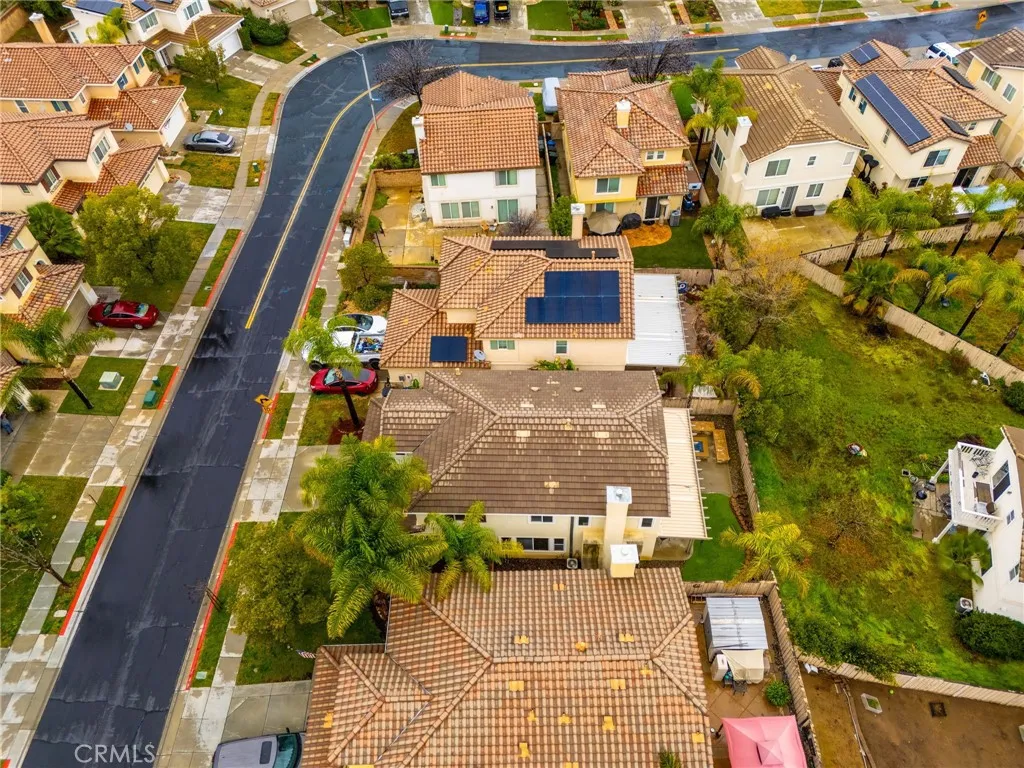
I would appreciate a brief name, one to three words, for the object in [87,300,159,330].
car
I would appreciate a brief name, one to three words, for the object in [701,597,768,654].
shed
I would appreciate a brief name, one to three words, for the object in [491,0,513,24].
car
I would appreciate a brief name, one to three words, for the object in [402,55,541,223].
house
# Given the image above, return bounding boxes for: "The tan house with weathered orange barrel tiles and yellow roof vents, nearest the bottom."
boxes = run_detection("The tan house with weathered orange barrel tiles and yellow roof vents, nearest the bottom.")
[301,547,714,768]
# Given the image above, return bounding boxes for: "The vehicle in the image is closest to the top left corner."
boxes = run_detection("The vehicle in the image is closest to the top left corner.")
[179,132,239,158]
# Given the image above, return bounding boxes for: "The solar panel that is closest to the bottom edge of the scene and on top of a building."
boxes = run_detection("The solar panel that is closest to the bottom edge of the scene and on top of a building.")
[431,336,467,361]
